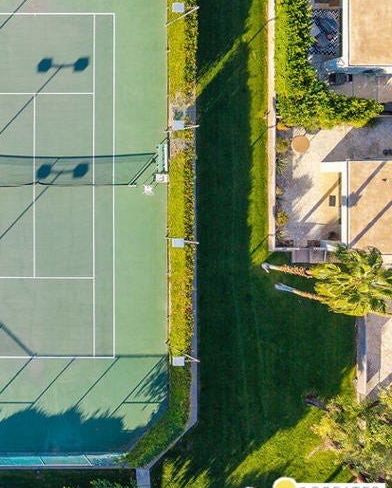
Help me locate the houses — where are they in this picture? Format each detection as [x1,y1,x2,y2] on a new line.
[316,161,392,256]
[321,0,392,70]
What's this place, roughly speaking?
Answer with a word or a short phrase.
sports ground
